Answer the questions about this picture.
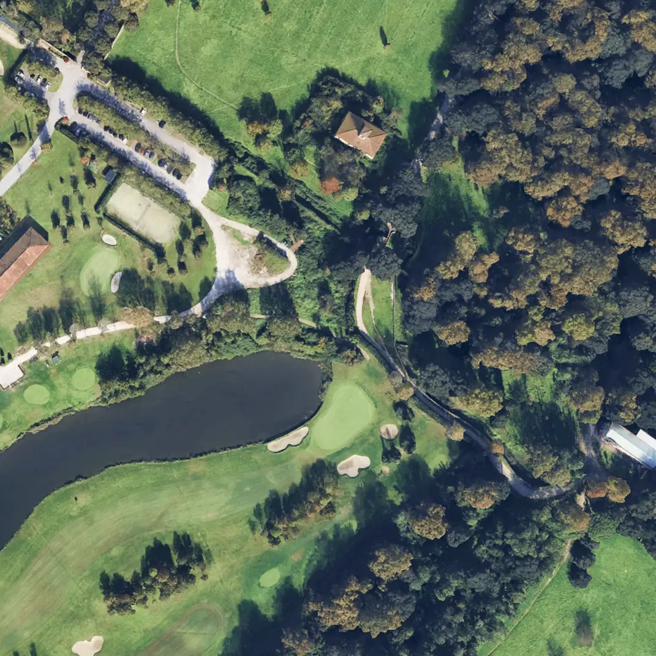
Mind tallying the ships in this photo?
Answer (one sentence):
There are no ships in this view.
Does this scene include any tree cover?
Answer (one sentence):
Yes, some tree cover is visible.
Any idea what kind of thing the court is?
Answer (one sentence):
The court is a tennis court.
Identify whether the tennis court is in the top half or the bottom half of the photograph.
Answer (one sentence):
You can find the tennis court in the top half.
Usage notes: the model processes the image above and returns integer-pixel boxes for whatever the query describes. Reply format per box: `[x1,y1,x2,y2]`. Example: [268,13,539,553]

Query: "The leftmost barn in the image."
[0,226,48,298]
